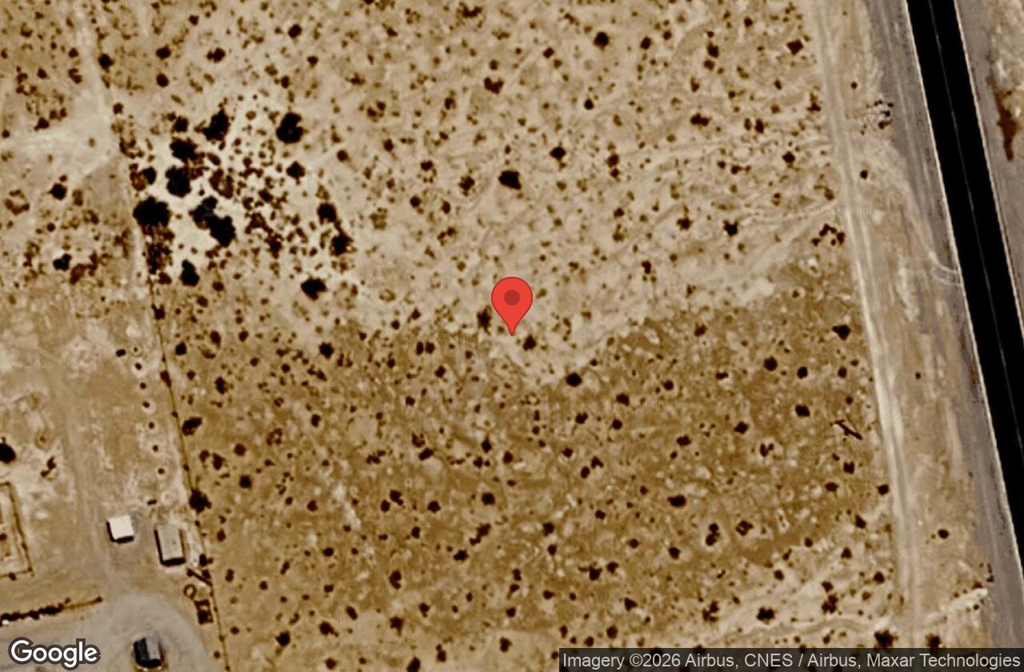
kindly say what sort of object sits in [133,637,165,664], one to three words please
shed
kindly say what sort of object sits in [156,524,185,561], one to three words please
shed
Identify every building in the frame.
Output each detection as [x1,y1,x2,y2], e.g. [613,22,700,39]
[133,637,165,664]
[107,515,134,540]
[156,524,185,561]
